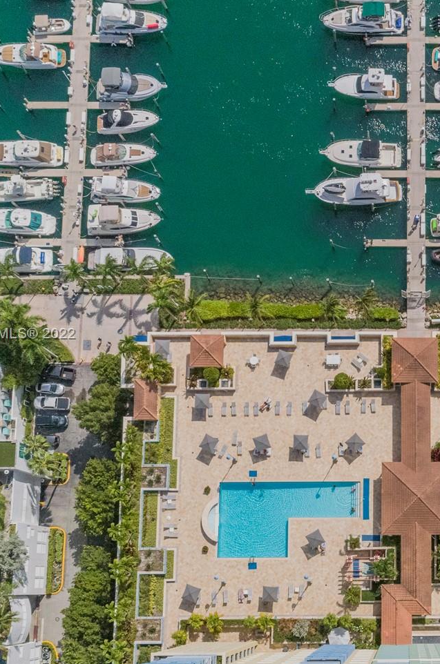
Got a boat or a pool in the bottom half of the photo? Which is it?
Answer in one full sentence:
There is a pool in the bottom half of the photo.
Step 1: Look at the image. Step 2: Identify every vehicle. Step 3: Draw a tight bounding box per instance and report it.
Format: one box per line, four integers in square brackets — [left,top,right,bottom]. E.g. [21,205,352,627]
[37,433,67,447]
[36,396,70,410]
[37,416,68,430]
[39,382,69,396]
[45,367,77,382]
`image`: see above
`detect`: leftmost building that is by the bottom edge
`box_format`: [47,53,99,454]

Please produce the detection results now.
[8,472,57,664]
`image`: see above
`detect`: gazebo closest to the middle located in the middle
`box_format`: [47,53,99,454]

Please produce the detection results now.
[189,334,225,368]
